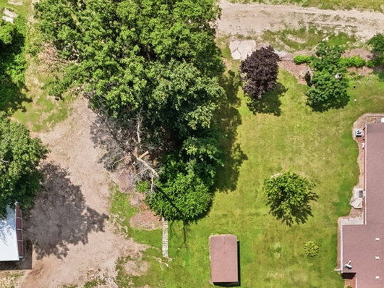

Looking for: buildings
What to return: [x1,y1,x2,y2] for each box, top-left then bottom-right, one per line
[0,199,25,261]
[209,234,239,283]
[341,123,384,288]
